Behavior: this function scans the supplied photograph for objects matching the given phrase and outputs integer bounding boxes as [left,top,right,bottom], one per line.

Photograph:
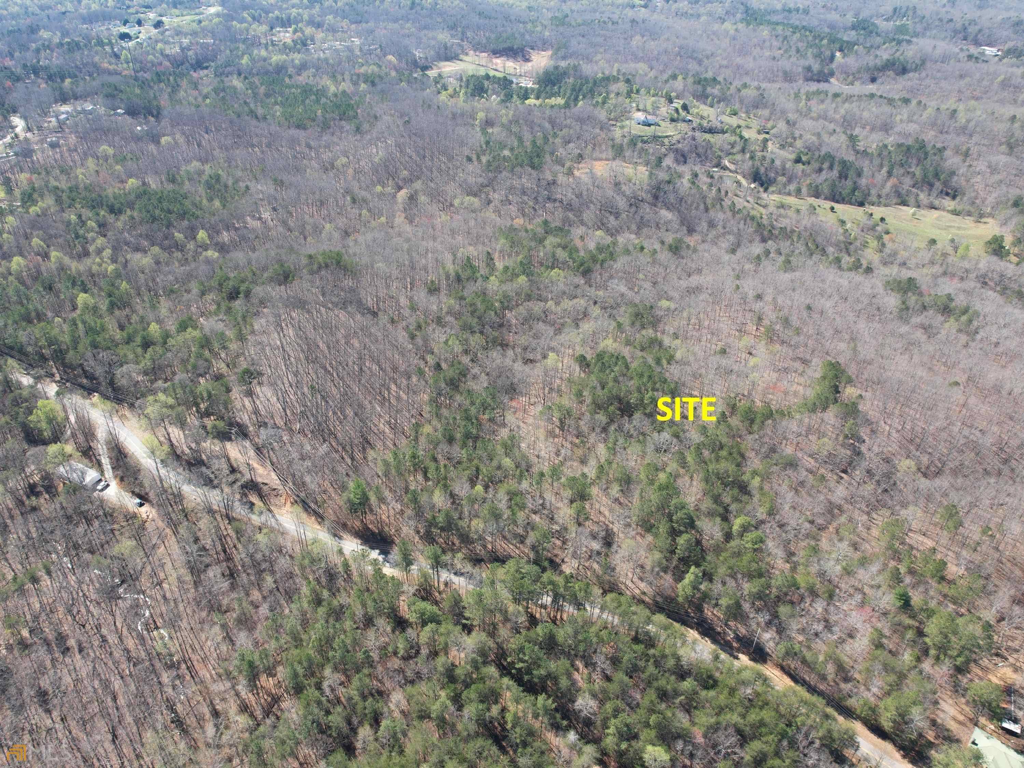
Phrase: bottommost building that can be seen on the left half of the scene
[55,460,102,490]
